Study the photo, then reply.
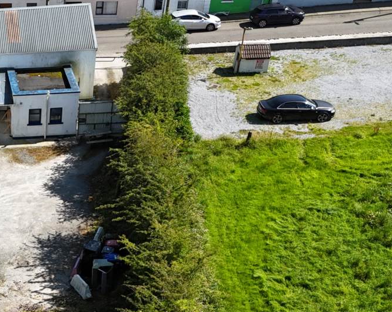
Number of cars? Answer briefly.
three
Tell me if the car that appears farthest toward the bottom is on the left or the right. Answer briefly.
right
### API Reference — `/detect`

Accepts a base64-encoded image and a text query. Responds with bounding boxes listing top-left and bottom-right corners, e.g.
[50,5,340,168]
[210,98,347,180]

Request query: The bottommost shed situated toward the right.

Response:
[225,41,272,73]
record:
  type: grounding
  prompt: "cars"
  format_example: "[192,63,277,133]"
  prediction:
[259,93,338,123]
[177,9,221,31]
[247,2,304,28]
